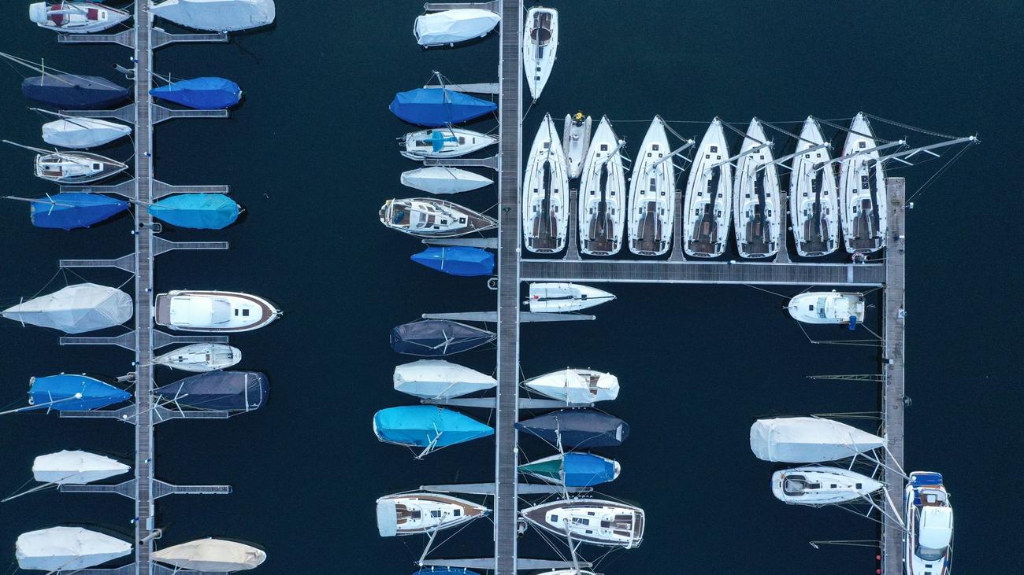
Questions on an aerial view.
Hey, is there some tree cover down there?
No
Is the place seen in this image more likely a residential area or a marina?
marina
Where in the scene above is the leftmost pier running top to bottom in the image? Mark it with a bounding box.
[122,0,158,575]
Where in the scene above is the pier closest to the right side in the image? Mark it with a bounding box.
[878,178,906,575]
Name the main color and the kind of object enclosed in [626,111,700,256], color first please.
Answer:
white boat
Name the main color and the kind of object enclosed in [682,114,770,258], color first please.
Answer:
white boat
